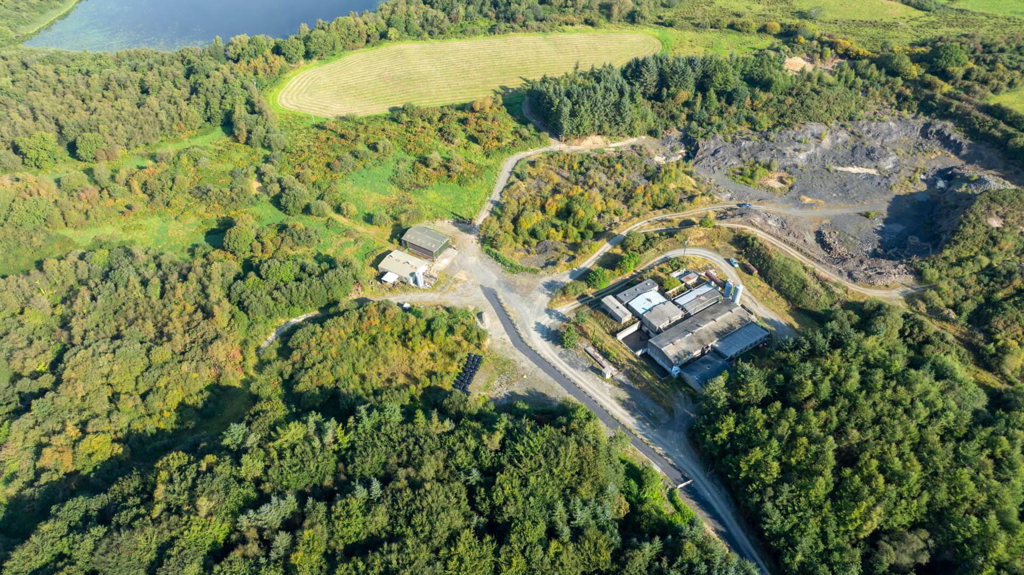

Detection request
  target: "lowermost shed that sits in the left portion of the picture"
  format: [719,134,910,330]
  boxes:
[378,249,427,287]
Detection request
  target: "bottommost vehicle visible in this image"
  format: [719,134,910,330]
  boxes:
[726,257,743,269]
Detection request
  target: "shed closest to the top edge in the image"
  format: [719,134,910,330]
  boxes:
[400,224,449,260]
